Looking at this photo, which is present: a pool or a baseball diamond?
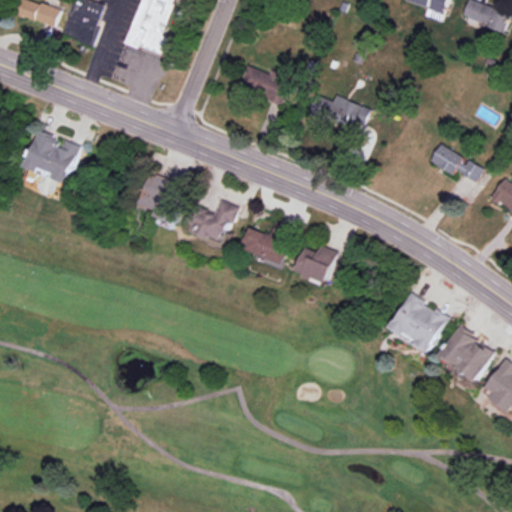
pool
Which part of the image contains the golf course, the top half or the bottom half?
bottom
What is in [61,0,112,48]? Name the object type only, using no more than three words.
building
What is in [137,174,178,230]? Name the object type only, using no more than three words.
house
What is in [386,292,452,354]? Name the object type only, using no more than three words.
house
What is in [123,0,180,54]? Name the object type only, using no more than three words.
building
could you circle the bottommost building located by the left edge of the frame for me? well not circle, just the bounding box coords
[23,132,84,201]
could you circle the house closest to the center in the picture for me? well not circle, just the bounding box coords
[242,227,292,270]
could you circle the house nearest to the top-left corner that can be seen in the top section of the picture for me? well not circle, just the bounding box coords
[14,0,64,28]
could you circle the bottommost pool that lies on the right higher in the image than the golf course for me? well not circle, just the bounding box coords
[474,102,505,130]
